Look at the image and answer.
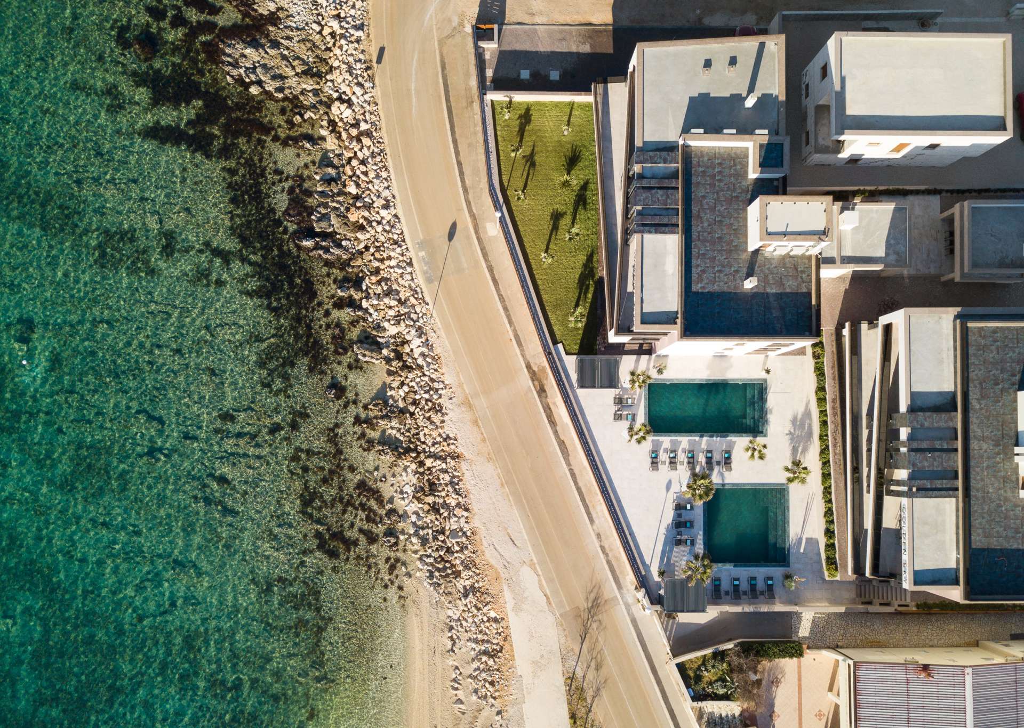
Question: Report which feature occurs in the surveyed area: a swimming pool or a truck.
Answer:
swimming pool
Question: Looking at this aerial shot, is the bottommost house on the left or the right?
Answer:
right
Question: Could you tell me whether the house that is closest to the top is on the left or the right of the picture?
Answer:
right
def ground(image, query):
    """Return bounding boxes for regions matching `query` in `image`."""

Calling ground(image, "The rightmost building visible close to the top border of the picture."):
[804,27,1013,166]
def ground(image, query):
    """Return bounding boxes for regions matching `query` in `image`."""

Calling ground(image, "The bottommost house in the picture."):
[835,648,1024,728]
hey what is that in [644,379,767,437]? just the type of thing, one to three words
swimming pool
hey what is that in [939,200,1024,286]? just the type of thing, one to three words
house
